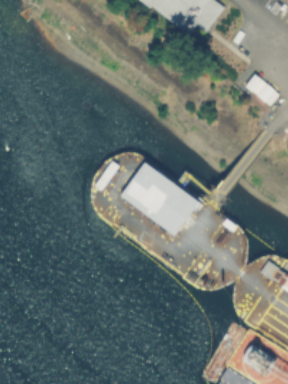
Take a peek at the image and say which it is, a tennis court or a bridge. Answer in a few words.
bridge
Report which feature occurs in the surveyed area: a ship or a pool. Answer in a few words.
ship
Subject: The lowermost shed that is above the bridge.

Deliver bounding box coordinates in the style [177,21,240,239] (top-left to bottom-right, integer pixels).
[246,74,280,106]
